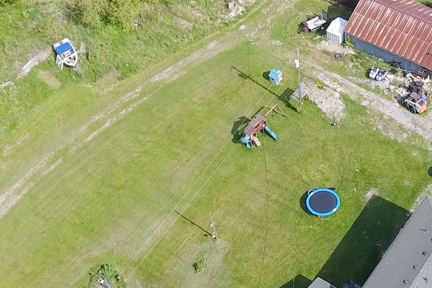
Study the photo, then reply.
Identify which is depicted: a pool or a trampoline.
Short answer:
trampoline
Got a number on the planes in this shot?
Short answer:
0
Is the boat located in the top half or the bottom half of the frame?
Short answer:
top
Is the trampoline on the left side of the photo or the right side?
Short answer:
right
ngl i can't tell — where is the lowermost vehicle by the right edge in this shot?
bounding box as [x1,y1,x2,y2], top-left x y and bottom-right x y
[399,92,429,113]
